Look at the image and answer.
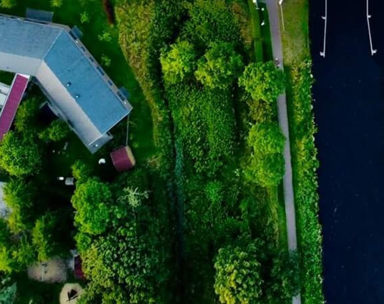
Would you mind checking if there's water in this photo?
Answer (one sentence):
Yes, there is water in the image.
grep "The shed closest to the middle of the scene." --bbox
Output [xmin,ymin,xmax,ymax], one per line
[110,141,137,174]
